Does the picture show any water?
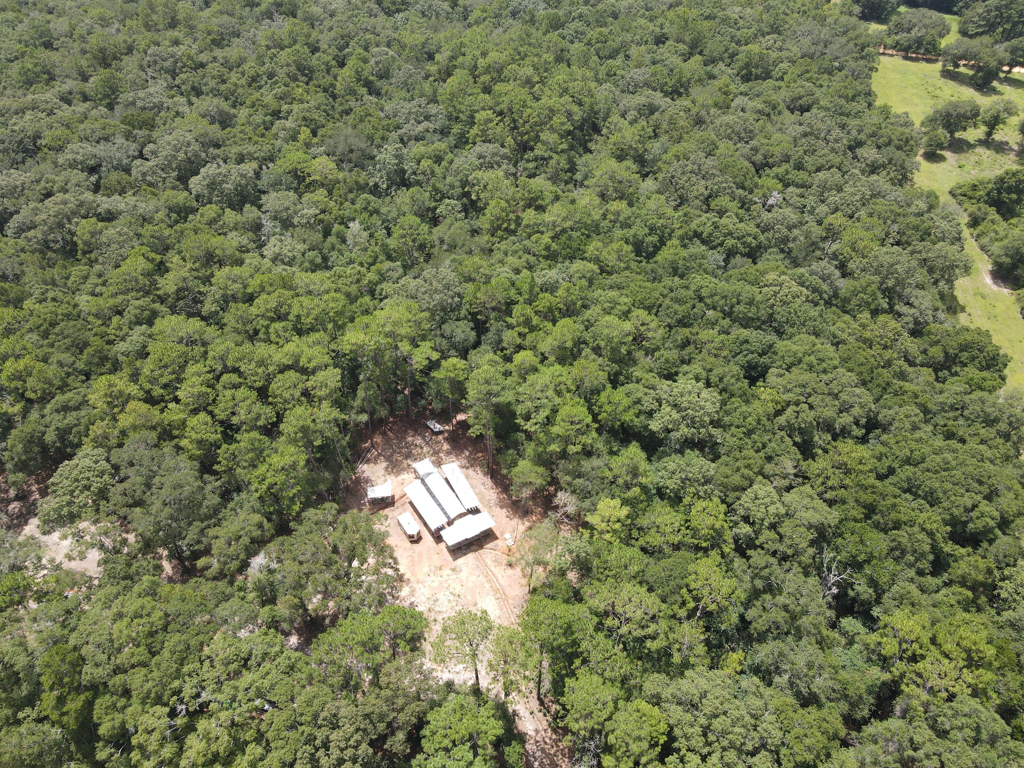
No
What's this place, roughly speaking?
forest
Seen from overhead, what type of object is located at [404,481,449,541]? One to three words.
house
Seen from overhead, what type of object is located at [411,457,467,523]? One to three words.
house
